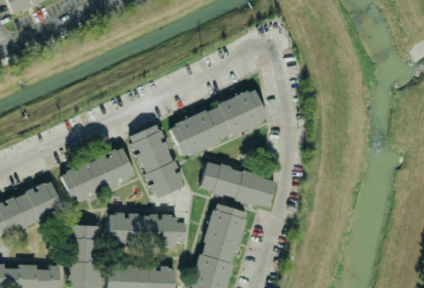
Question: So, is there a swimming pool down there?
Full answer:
No, the frame has no swimming pool in it.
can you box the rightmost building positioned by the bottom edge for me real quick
[190,204,246,288]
